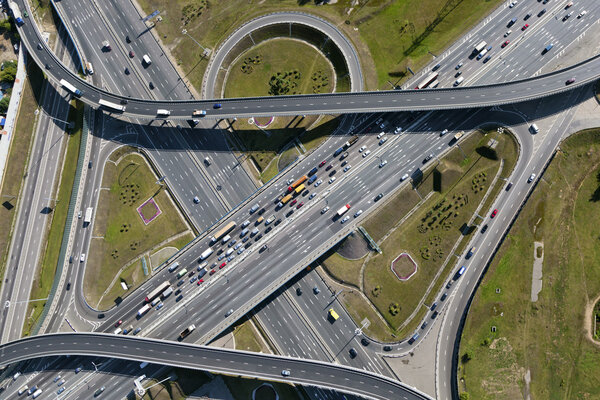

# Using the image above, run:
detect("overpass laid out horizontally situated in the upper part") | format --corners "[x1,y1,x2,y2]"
[8,0,600,122]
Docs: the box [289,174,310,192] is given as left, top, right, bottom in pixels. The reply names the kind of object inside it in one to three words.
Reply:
vehicle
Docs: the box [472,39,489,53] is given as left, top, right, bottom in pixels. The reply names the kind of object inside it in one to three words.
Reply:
vehicle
